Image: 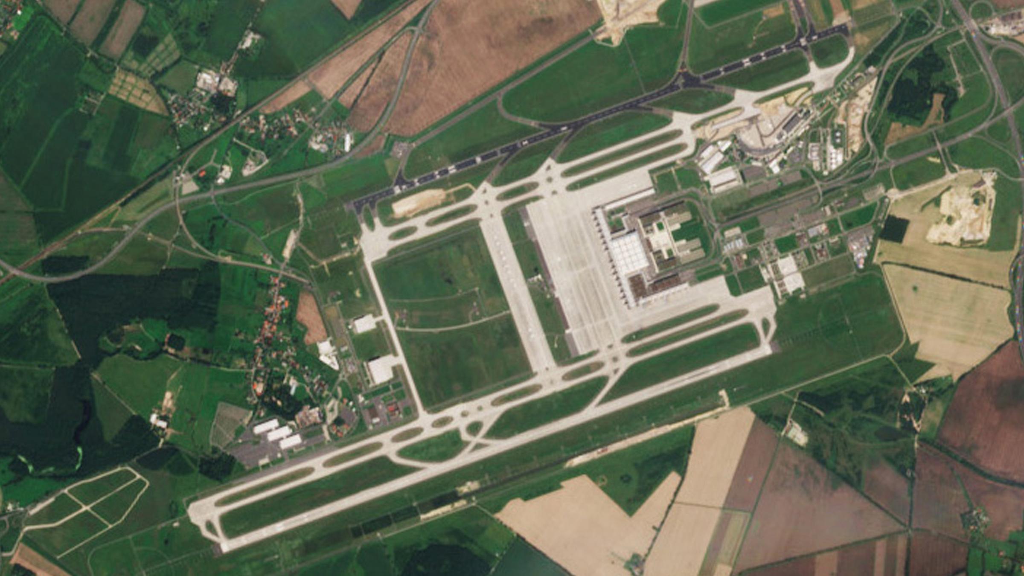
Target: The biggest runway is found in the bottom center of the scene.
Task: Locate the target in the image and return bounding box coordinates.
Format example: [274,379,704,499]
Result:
[219,343,772,553]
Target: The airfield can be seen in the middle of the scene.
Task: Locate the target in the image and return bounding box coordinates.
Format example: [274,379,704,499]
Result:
[184,0,854,567]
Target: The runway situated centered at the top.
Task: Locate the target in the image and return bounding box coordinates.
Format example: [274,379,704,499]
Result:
[354,26,848,209]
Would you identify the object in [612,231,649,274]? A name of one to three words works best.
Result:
building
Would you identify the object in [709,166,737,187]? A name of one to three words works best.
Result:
hangar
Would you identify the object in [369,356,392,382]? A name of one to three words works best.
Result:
hangar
